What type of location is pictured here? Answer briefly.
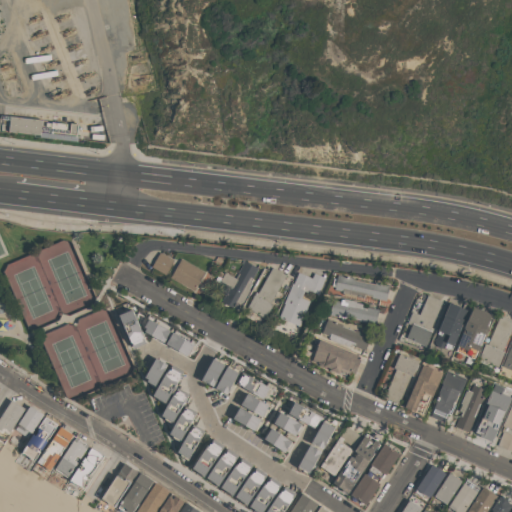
residential area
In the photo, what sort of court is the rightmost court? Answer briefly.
tennis court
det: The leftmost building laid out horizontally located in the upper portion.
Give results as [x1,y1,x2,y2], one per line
[10,116,44,136]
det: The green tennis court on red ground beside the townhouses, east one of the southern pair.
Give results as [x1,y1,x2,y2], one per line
[76,310,128,382]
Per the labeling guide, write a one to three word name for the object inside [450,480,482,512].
house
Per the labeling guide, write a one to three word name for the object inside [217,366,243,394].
house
